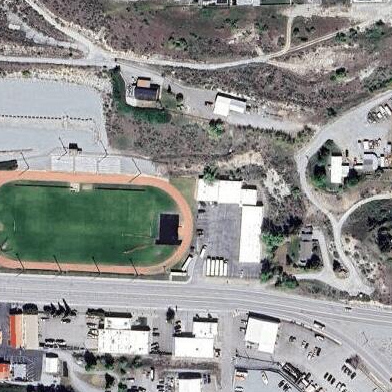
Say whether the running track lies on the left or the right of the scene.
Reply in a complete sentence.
It is on the left.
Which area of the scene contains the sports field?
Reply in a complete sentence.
You can find the sports field in the left area of the picture.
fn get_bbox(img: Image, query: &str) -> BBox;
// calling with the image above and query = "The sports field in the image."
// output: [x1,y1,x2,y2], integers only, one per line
[0,181,184,265]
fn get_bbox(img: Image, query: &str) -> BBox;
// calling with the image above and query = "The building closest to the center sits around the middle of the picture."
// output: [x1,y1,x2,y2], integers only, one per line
[196,178,221,202]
